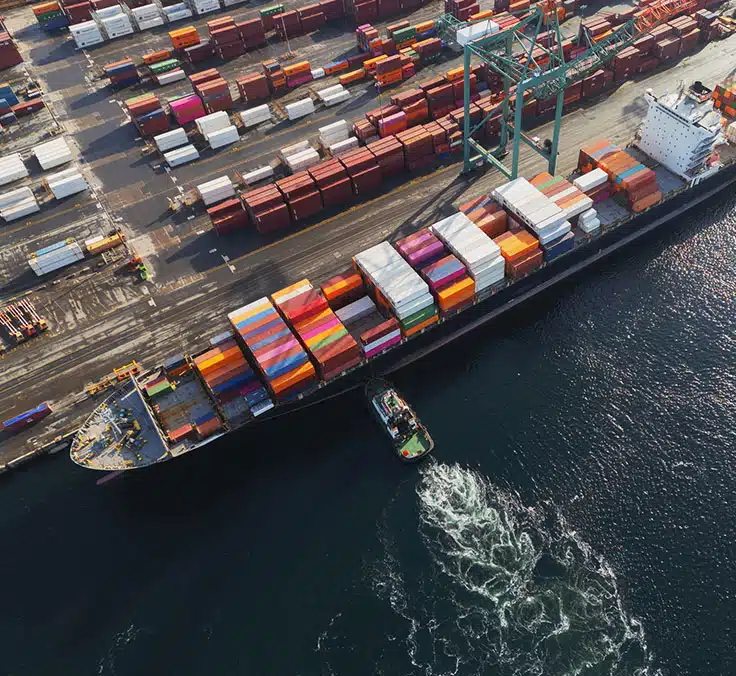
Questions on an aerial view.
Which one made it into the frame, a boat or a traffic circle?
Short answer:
boat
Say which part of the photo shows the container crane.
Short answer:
top right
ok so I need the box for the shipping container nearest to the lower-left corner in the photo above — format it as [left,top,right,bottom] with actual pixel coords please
[0,400,50,432]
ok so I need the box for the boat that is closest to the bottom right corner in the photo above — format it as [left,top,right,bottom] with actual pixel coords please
[364,369,434,466]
